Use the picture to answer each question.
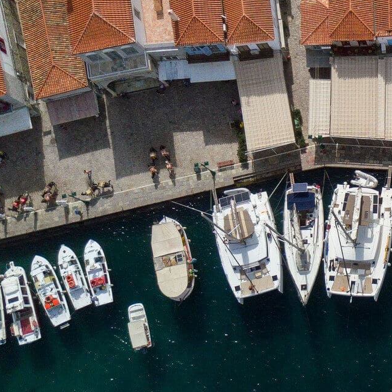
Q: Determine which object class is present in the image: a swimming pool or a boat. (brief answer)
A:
boat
